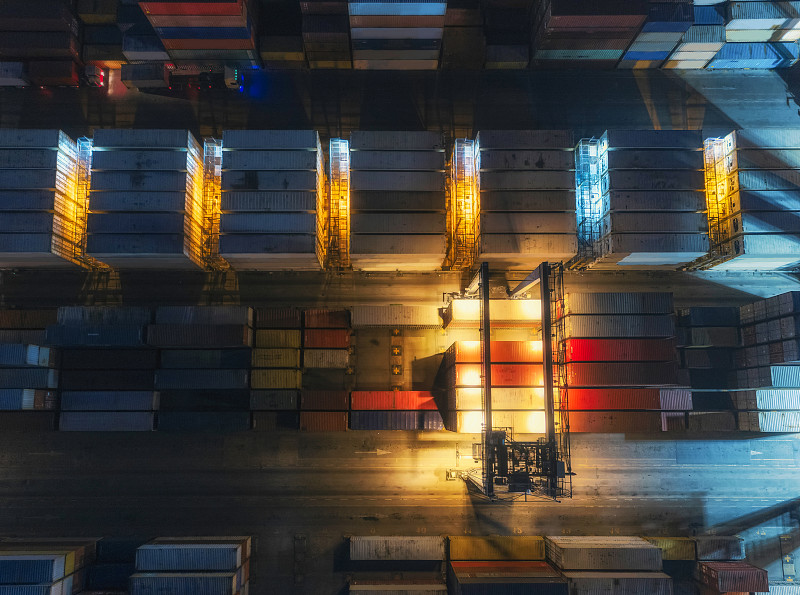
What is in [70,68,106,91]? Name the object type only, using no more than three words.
truck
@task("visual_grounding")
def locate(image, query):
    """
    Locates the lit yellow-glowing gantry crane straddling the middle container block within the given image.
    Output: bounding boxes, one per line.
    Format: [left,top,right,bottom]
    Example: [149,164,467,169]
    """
[437,262,580,508]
